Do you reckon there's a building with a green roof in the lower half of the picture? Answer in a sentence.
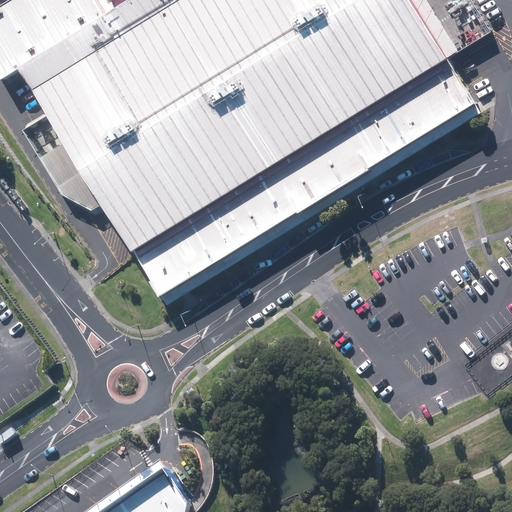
No, the scene shows no building with a green roof in the lower half of the picture.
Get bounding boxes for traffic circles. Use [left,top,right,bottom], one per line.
[108,364,146,404]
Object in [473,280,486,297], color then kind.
white vehicle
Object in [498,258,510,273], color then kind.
white vehicle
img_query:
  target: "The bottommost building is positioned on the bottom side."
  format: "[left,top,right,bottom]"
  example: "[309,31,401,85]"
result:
[88,457,204,512]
